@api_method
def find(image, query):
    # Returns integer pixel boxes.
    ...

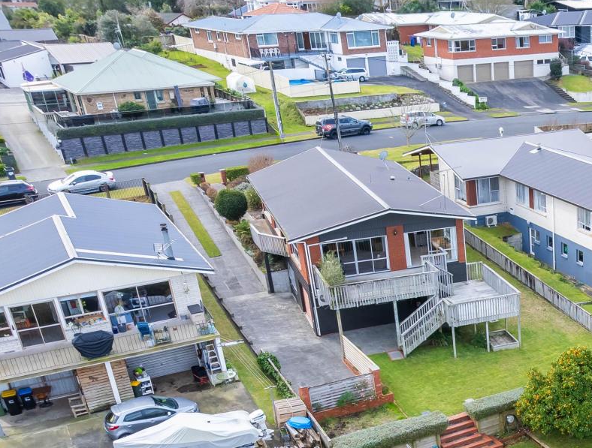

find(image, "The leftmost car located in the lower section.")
[86,394,201,447]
